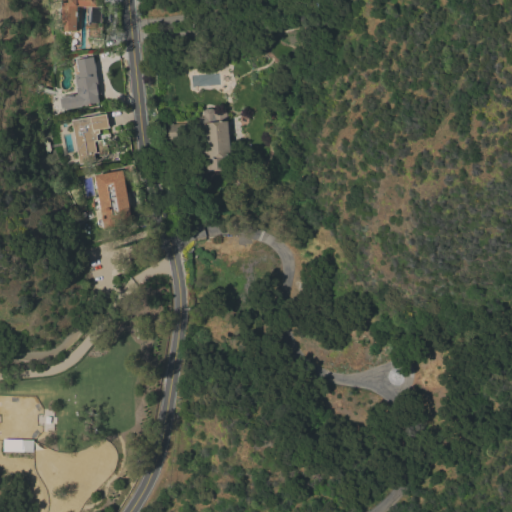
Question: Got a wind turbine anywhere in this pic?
No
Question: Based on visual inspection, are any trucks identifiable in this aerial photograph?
No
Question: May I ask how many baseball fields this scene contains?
zero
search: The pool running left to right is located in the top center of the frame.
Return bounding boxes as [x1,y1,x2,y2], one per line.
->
[192,74,222,87]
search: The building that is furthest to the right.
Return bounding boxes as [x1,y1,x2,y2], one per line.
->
[202,104,230,173]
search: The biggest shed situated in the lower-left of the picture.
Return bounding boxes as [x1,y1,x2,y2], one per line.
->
[3,440,35,453]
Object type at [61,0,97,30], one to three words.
house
